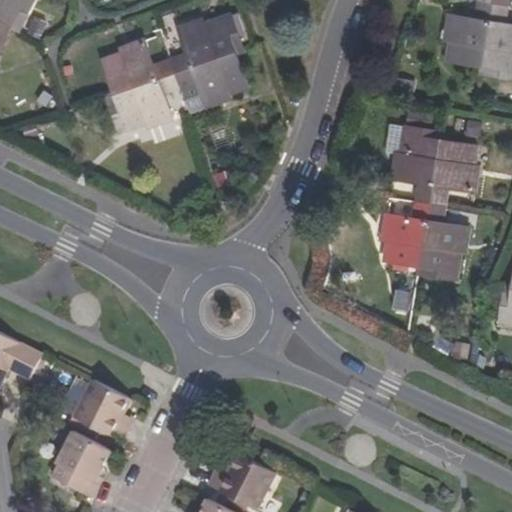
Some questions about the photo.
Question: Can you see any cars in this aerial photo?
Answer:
Yes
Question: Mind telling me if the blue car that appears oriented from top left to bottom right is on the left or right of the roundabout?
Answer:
to the right of it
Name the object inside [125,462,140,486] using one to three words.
car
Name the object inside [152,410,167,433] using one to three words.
car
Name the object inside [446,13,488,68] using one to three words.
house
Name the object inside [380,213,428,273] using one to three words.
house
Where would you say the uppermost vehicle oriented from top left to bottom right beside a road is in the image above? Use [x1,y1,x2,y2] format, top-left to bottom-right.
[280,307,302,326]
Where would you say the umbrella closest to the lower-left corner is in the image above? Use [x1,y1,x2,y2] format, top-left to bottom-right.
[38,444,54,460]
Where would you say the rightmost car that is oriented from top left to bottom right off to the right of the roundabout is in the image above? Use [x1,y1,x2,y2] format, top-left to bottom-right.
[343,354,366,374]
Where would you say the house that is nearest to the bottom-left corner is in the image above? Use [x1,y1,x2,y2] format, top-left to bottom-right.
[51,430,111,498]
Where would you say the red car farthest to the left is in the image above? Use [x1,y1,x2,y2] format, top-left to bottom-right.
[96,480,112,502]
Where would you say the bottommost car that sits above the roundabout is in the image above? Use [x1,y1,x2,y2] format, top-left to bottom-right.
[290,182,306,204]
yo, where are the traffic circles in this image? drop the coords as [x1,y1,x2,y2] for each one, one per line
[156,231,301,383]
